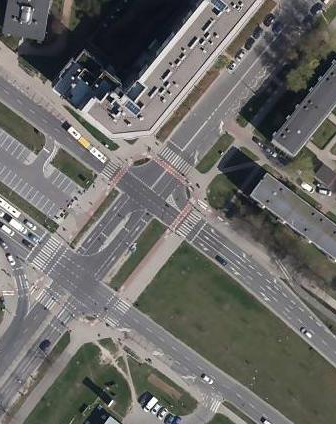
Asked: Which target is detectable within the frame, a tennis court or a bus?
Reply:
bus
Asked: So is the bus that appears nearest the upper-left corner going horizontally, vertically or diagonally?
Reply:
diagonally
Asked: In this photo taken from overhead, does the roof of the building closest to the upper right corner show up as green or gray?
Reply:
gray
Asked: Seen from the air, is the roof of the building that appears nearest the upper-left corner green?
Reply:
No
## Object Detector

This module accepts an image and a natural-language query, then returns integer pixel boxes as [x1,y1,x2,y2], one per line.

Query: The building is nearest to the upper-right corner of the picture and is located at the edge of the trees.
[272,63,336,157]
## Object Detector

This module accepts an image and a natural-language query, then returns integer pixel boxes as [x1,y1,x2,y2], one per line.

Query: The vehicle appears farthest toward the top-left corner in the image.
[67,125,108,164]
